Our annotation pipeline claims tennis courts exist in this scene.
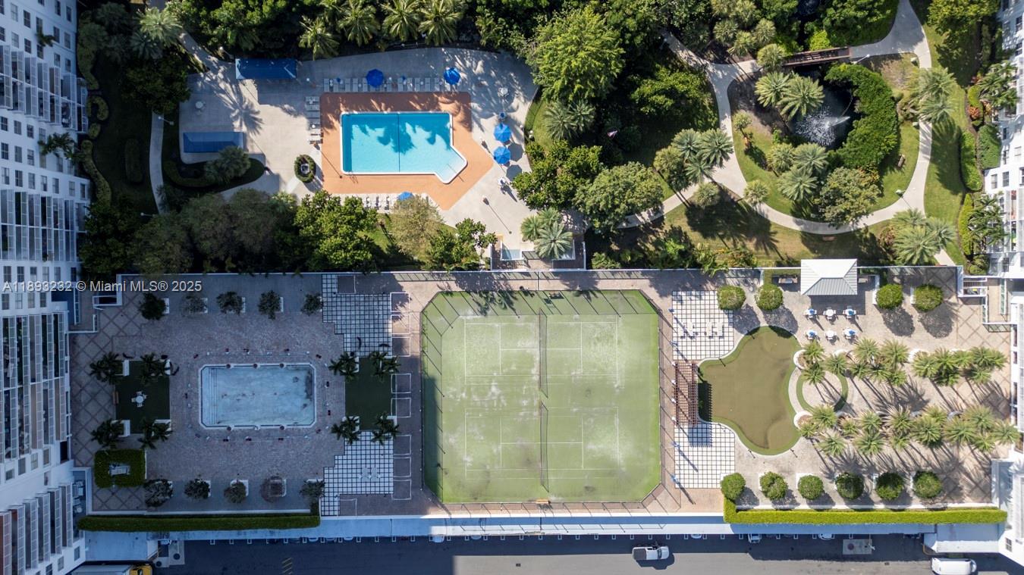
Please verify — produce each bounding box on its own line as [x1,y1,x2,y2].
[423,396,661,503]
[422,291,660,396]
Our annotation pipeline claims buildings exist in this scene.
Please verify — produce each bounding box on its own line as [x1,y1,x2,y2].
[795,259,858,295]
[979,0,1024,554]
[0,0,102,575]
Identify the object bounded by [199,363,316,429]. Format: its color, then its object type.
blue swimming pool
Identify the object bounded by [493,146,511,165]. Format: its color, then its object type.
blue umbrella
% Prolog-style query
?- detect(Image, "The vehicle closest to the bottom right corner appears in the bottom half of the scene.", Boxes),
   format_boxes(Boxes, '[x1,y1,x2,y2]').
[929,555,972,574]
